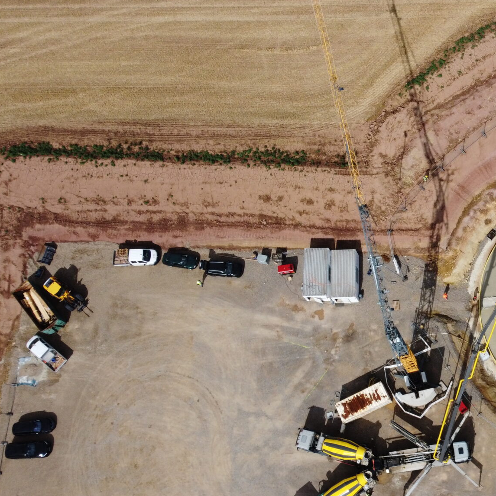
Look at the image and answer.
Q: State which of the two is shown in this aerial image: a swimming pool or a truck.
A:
truck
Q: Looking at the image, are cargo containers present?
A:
Yes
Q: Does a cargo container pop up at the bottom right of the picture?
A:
Yes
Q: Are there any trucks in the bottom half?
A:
Yes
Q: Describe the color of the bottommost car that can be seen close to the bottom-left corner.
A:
black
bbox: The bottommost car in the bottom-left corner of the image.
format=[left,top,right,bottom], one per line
[5,439,56,459]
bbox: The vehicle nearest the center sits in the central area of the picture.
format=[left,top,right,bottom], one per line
[198,259,246,278]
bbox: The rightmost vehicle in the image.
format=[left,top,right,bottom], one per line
[371,303,496,496]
